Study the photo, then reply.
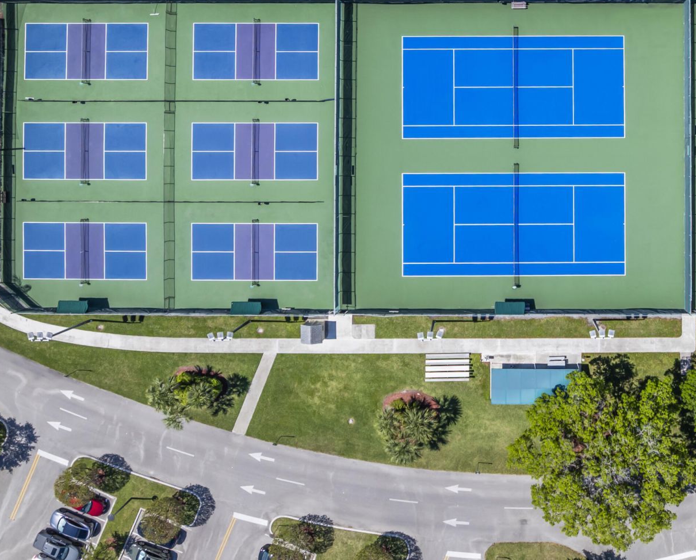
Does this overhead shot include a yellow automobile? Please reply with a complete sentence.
No, no yellow automobile is visible in the scene.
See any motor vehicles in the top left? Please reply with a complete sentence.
No, the scene shows no motor vehicle in the top left.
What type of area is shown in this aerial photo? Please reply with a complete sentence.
This looks like a sports ground.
